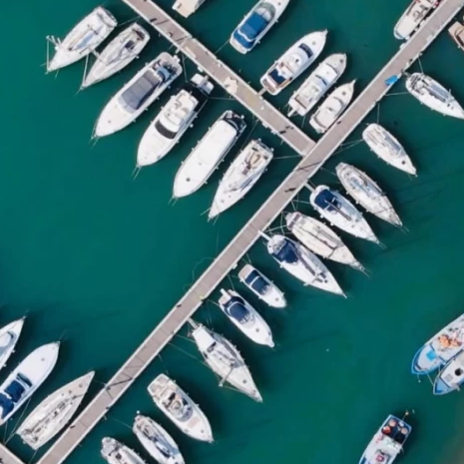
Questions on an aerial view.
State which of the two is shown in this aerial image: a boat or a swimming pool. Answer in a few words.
boat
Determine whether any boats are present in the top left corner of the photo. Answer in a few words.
Yes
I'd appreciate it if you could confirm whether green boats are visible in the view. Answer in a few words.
No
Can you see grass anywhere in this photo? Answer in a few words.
No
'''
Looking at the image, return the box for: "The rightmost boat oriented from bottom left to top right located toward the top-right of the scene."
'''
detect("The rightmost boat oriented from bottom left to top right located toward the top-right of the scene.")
[394,0,439,37]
